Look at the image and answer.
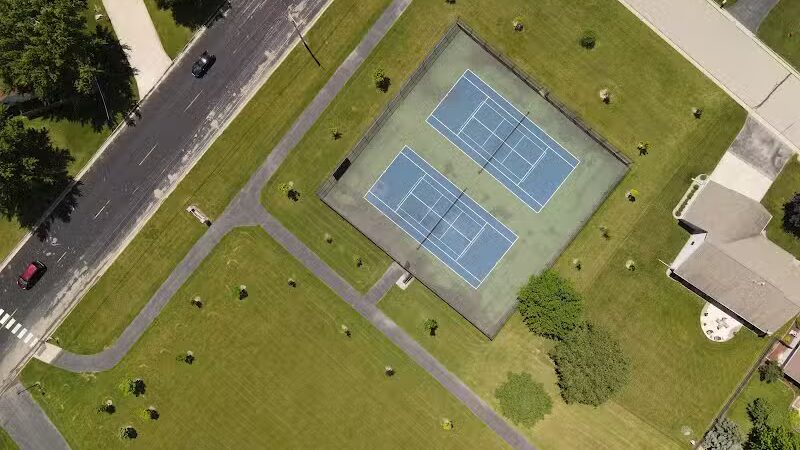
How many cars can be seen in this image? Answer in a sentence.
The number of cars here is 2.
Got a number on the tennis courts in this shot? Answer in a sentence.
The count of tennis courts comes to 2.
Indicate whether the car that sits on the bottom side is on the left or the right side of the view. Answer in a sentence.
The car that sits on the bottom side appears in the left half of the scene.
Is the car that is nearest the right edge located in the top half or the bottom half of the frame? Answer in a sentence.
The car that is nearest the right edge is in the top half of the image.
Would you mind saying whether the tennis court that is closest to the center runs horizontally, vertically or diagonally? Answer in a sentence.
Seen from above, the tennis court that is closest to the center lies diagonally.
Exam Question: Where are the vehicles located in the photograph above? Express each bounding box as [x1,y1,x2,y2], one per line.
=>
[19,259,45,287]
[192,49,217,77]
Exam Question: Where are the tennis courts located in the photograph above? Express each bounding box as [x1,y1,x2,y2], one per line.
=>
[363,145,518,289]
[426,69,580,213]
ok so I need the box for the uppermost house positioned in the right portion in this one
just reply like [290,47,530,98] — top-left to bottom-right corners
[666,178,800,334]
